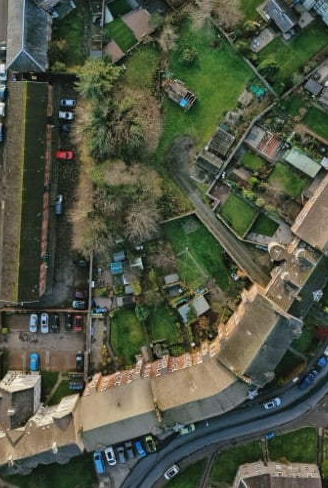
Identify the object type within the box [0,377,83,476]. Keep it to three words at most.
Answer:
house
